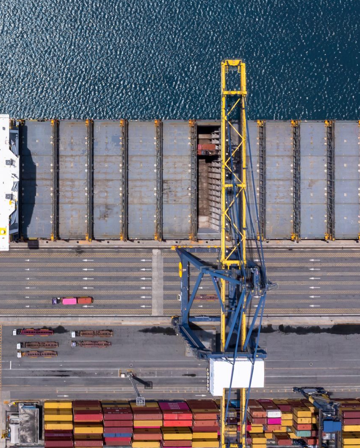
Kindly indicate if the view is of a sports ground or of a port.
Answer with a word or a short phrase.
port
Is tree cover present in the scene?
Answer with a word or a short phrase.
No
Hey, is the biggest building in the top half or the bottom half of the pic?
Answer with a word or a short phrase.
bottom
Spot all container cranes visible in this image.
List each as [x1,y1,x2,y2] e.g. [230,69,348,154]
[293,389,344,448]
[169,59,271,448]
